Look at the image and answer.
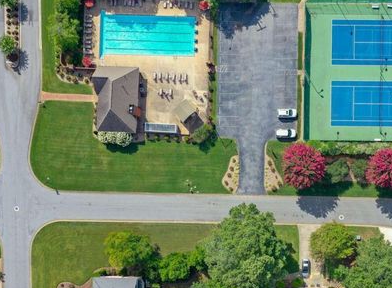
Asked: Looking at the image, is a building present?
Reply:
Yes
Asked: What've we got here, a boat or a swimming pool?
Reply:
swimming pool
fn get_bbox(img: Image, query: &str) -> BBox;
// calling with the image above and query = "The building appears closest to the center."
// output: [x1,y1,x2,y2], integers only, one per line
[174,101,204,133]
